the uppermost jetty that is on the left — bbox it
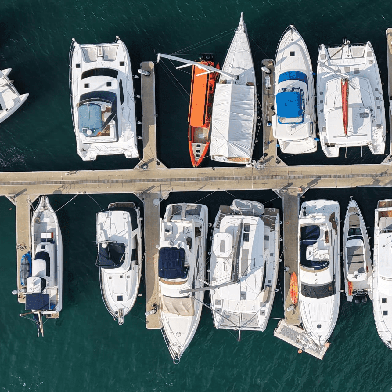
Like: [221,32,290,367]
[134,62,168,169]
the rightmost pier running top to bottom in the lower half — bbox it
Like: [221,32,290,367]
[271,188,309,324]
